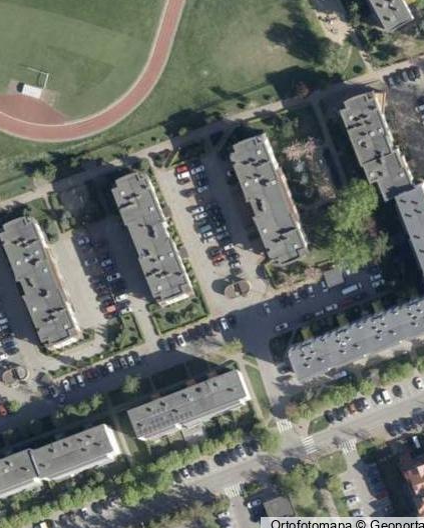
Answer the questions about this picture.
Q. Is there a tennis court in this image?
No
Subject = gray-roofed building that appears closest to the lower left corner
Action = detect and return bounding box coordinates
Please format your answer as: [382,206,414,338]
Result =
[0,425,119,496]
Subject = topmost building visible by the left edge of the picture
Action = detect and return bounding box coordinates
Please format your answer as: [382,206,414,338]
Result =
[0,217,79,350]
